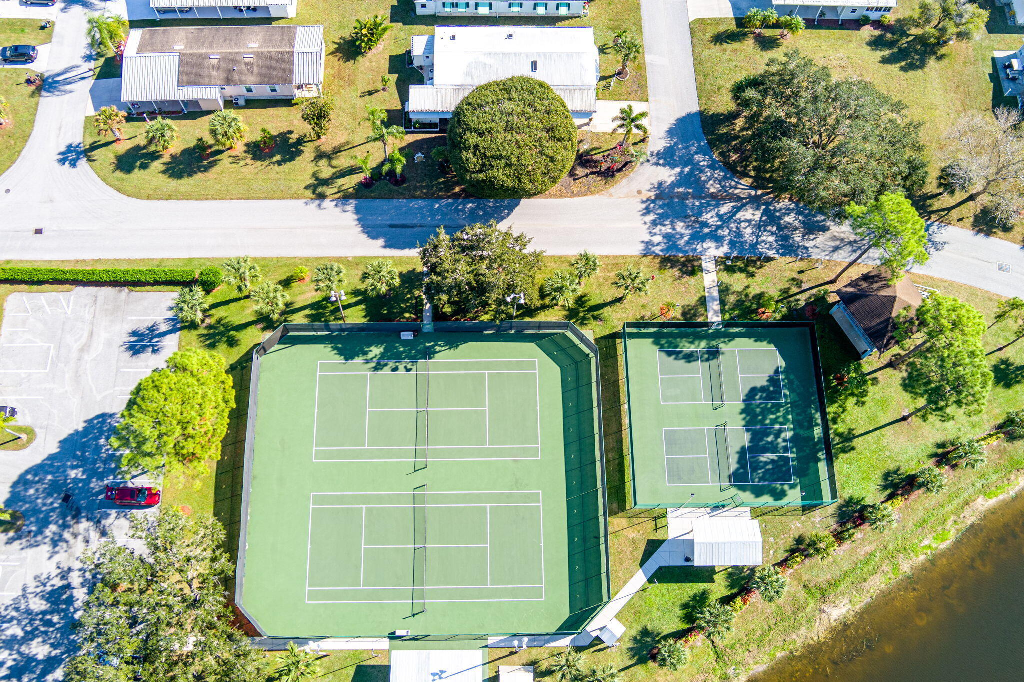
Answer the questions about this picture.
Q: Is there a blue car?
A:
Yes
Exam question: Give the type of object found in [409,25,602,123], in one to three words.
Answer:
house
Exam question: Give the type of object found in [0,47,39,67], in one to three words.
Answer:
car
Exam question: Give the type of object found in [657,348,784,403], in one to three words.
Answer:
sports court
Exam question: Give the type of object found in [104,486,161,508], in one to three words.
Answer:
car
